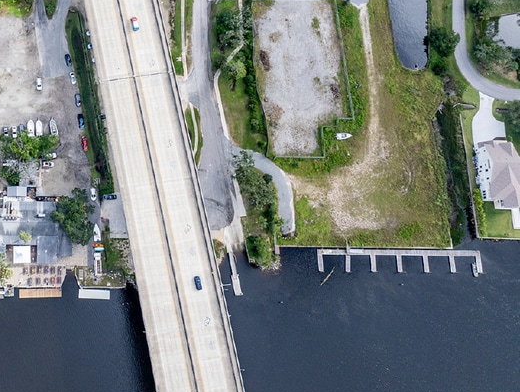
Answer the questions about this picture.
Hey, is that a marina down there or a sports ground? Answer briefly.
marina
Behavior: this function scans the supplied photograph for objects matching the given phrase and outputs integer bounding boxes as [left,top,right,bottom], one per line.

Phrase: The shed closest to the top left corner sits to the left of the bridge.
[20,160,38,186]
